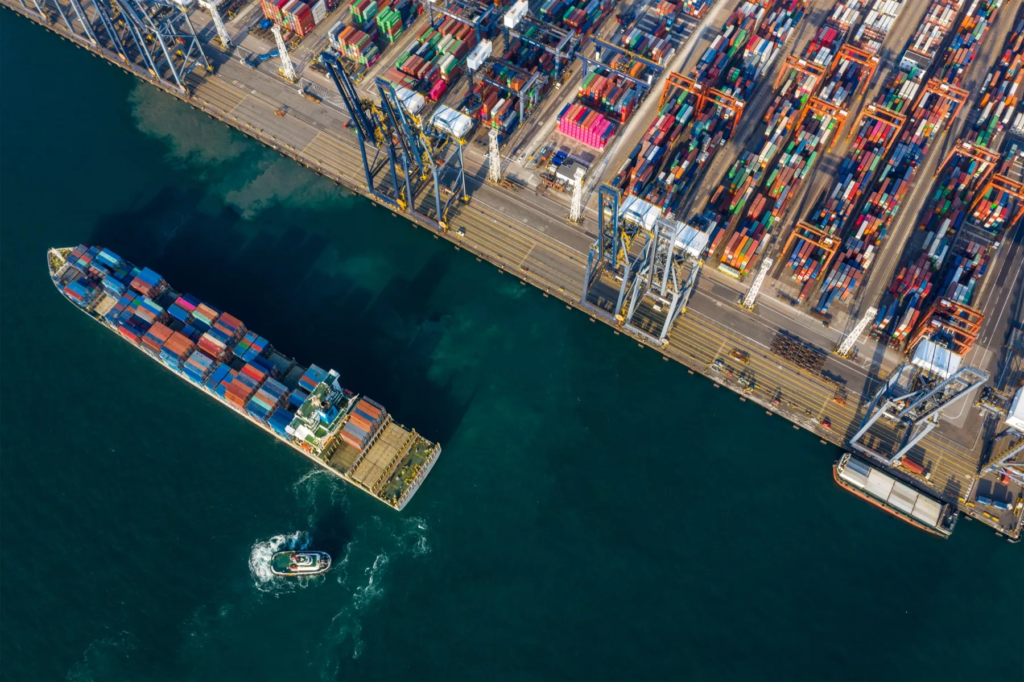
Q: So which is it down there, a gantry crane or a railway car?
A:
gantry crane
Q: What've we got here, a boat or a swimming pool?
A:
boat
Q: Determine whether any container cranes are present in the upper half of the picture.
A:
Yes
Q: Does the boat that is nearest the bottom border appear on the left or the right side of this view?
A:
left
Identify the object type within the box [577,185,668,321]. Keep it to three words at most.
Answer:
container crane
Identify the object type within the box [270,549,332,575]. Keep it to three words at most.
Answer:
boat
